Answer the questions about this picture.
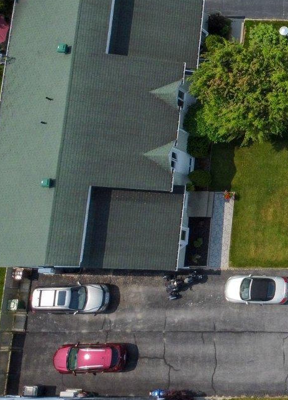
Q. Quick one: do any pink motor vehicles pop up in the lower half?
Yes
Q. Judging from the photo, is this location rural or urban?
urban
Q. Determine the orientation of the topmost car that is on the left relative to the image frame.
from left to right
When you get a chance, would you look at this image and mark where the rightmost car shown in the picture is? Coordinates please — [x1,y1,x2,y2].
[224,271,288,307]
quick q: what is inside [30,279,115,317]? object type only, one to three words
car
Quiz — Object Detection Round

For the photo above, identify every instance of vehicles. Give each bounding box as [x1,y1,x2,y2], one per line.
[52,340,131,377]
[224,271,288,307]
[172,271,208,290]
[163,270,179,304]
[30,279,115,317]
